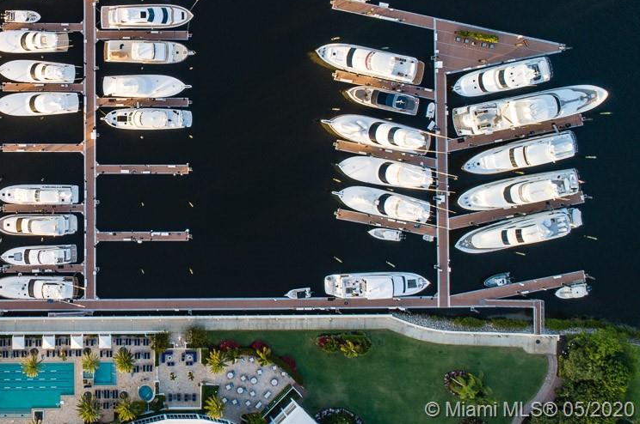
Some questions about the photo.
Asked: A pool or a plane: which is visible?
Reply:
pool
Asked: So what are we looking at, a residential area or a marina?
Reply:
marina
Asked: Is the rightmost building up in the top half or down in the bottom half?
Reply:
bottom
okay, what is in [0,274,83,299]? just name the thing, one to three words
boat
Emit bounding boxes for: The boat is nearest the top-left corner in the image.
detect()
[2,11,42,24]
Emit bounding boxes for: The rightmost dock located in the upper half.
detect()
[331,0,586,298]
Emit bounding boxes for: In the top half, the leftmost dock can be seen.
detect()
[0,0,193,298]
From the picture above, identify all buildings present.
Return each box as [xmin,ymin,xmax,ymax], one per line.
[116,408,242,424]
[263,385,319,424]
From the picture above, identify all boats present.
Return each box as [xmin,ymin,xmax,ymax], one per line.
[2,11,42,24]
[285,288,312,298]
[482,278,514,292]
[347,87,418,115]
[0,274,83,299]
[423,103,433,121]
[0,59,82,85]
[367,228,403,240]
[0,29,74,54]
[317,43,420,83]
[0,244,77,266]
[552,286,590,299]
[101,3,193,30]
[0,184,78,205]
[101,107,192,131]
[457,208,583,253]
[334,188,455,231]
[465,132,578,174]
[103,74,191,99]
[323,271,432,298]
[323,116,457,159]
[0,91,79,116]
[454,58,550,94]
[340,157,455,194]
[0,211,78,236]
[460,170,584,210]
[104,40,195,64]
